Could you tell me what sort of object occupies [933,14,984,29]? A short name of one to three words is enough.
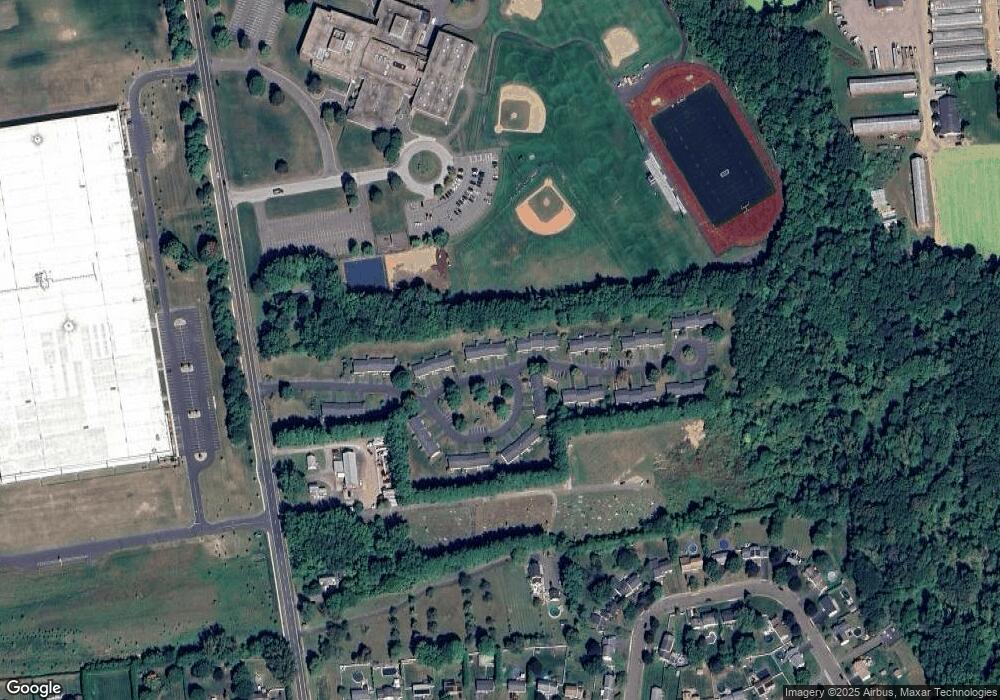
greenhouse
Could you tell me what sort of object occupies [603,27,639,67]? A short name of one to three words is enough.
baseball field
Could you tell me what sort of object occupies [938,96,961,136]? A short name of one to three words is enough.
barn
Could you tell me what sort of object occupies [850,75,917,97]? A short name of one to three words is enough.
shed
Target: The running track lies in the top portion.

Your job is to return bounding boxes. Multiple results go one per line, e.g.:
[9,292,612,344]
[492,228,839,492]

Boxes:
[626,62,783,256]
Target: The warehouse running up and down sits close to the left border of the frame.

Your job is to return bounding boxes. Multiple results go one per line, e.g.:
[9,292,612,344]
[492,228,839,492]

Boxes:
[0,110,175,482]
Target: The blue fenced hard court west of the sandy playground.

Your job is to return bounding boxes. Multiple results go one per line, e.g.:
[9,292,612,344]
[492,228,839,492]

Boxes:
[344,257,388,293]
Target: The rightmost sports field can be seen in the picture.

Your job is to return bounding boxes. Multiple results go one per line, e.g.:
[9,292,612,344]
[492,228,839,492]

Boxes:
[650,83,778,226]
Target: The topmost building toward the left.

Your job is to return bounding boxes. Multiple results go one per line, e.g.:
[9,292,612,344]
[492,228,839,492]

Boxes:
[300,0,477,132]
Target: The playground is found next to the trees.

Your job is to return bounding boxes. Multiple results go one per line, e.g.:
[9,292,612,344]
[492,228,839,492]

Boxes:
[386,247,449,296]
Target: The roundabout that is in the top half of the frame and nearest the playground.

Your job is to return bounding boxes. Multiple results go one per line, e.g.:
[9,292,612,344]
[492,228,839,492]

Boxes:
[399,140,453,193]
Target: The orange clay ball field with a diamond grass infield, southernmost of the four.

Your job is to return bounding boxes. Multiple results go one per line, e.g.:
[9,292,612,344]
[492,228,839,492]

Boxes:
[516,178,575,235]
